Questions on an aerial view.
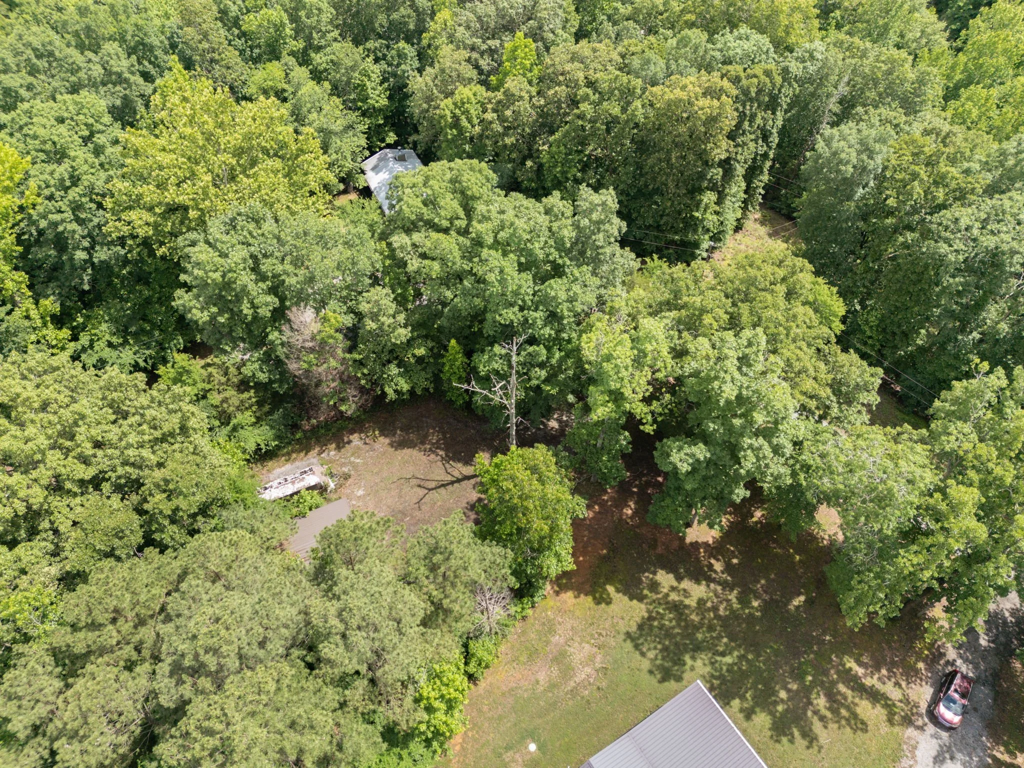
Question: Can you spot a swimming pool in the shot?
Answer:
No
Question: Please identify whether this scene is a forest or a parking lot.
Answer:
forest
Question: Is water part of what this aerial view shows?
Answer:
No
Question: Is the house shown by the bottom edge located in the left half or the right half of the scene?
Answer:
right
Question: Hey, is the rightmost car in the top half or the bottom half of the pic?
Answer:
bottom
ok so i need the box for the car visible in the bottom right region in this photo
[929,667,974,729]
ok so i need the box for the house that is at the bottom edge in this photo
[579,679,768,768]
